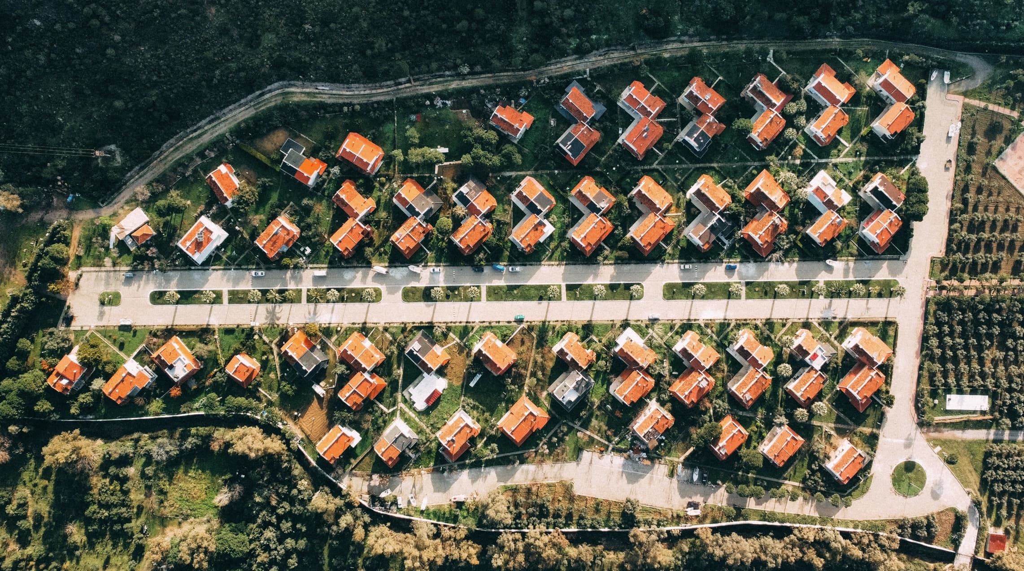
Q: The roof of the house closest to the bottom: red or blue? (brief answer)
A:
red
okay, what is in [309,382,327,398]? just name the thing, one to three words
camper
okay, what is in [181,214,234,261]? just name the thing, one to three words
house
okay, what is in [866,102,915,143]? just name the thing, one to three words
house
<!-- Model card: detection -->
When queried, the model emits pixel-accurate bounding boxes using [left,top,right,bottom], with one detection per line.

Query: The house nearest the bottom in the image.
[983,527,1007,553]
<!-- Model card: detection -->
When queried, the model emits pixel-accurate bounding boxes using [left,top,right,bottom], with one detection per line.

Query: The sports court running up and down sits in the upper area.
[995,129,1024,191]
